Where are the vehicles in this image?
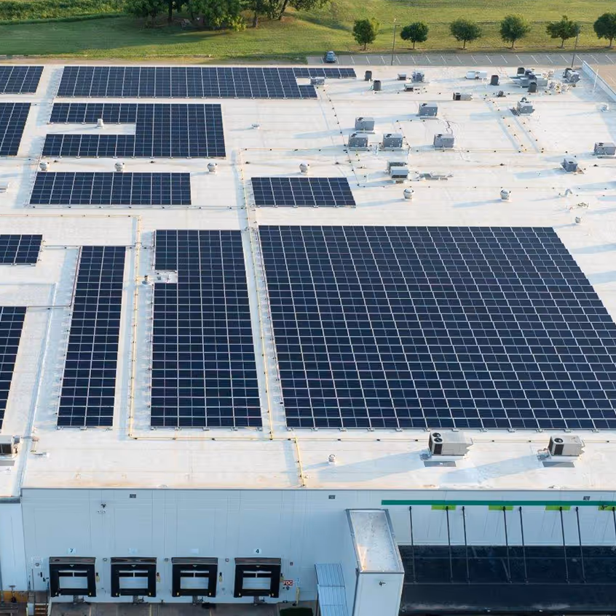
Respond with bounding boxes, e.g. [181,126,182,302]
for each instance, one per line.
[322,48,335,61]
